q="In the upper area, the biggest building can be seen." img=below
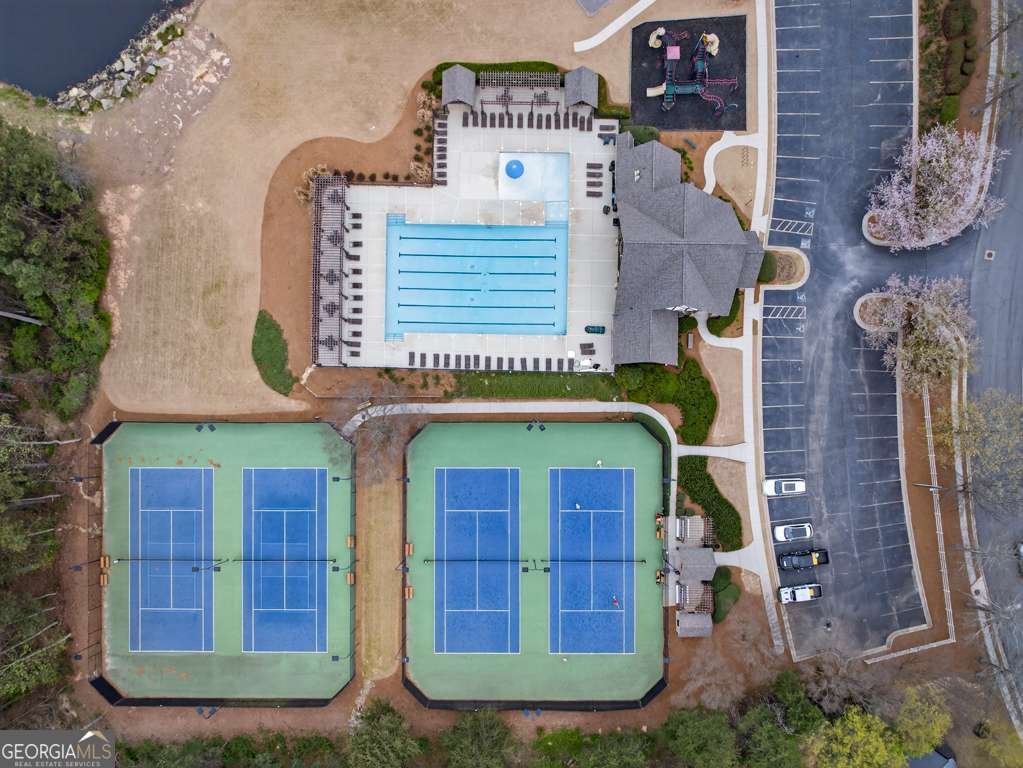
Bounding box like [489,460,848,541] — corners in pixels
[612,131,766,365]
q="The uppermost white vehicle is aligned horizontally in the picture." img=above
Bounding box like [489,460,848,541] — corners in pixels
[763,478,806,497]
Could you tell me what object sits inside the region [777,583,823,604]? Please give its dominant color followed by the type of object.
white vehicle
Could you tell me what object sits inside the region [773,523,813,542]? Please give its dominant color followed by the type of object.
white car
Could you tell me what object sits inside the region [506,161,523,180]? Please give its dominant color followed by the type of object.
blue fountain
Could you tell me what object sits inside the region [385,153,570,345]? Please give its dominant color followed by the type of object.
blue swimming pool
